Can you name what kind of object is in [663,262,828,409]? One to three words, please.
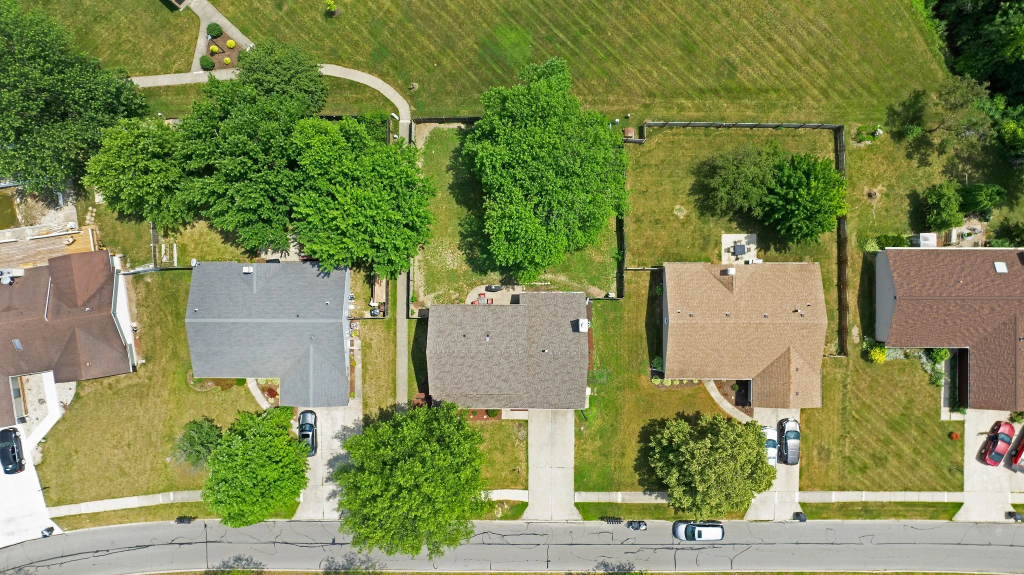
house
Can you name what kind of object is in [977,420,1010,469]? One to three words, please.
car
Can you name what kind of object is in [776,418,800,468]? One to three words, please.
car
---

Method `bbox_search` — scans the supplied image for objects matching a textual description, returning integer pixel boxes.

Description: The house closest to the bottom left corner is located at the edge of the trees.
[0,250,135,428]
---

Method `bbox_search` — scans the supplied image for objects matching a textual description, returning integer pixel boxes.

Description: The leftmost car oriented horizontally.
[673,516,726,540]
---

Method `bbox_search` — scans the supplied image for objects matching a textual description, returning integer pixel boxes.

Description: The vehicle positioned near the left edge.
[0,427,20,477]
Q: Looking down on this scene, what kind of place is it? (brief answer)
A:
residential area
